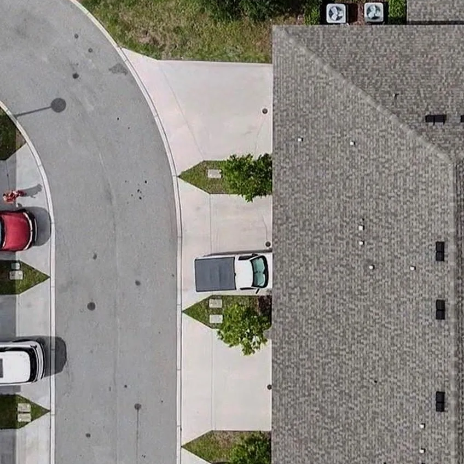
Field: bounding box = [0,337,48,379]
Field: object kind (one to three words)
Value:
car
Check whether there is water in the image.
No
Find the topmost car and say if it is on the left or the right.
left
